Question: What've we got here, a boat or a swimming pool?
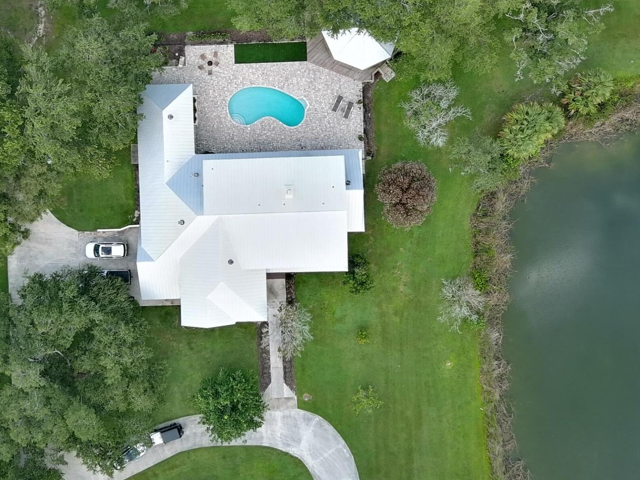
swimming pool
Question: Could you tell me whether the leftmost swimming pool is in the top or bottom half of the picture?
top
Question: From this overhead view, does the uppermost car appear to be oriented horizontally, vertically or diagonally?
horizontally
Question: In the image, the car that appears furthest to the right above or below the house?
below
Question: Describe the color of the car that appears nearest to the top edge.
white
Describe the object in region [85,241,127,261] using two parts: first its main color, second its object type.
white car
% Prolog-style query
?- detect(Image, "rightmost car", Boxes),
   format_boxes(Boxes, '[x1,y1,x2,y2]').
[146,424,185,449]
